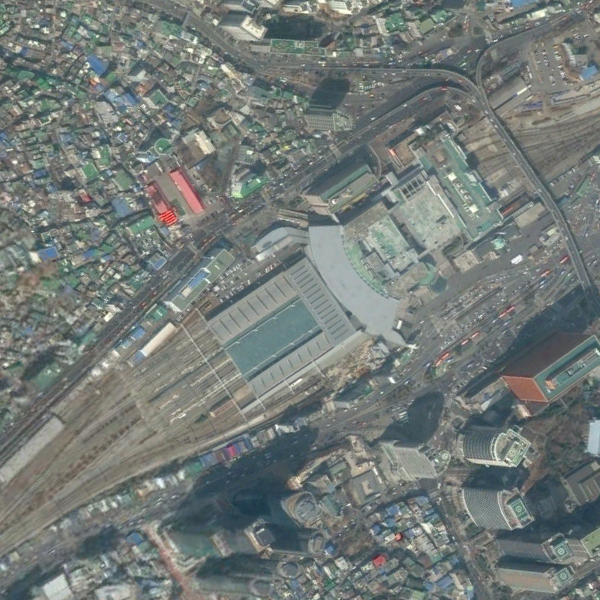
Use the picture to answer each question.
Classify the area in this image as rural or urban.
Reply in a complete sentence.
The area is urban.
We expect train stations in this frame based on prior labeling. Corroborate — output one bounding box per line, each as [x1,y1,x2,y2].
[202,225,405,405]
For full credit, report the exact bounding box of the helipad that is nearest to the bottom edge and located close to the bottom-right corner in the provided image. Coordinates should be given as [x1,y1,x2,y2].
[555,568,571,585]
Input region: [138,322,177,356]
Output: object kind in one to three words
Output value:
shed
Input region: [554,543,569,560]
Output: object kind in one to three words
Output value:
helipad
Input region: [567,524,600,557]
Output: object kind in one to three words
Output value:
building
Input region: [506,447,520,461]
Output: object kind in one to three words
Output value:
helipad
